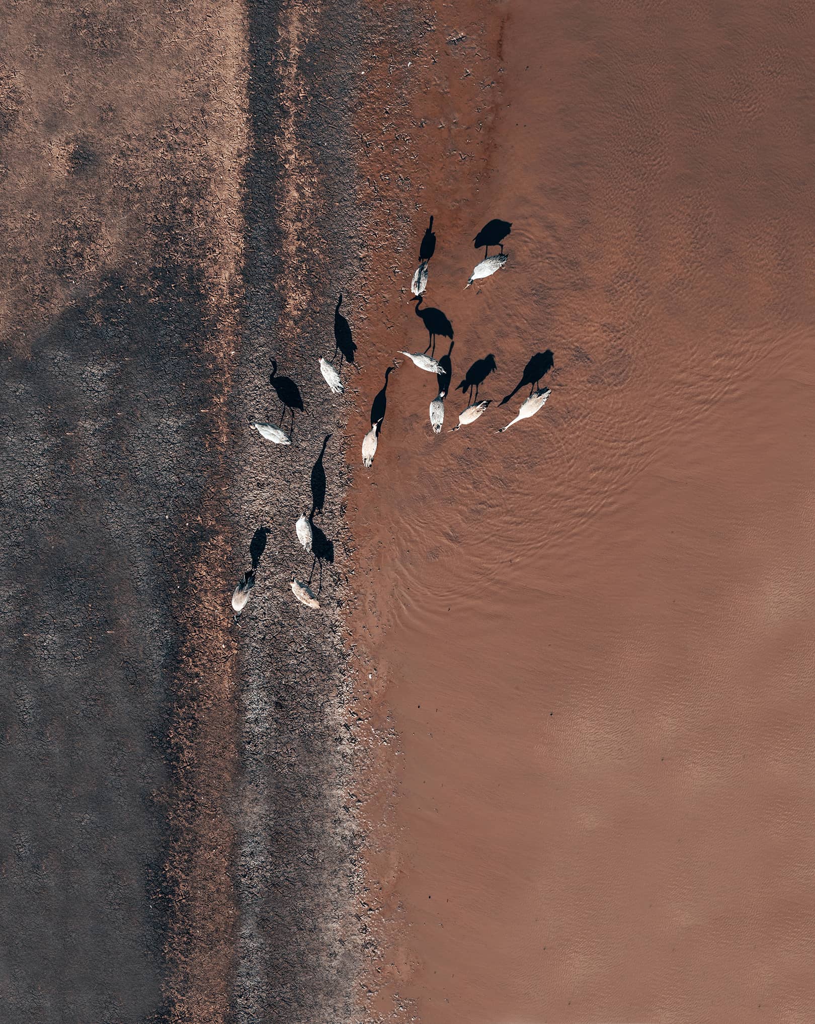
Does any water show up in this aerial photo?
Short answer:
Yes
